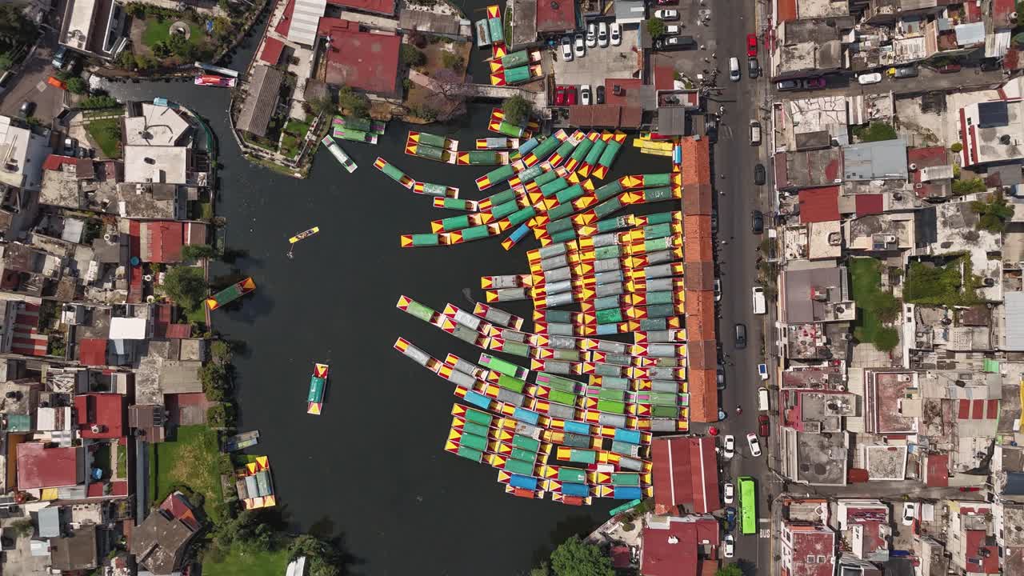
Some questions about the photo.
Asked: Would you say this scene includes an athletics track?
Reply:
No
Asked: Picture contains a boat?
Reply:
Yes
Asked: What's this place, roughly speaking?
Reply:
residential area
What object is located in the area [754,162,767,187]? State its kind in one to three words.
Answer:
vehicle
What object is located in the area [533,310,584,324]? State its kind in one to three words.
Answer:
boat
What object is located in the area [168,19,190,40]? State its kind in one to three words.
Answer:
fountain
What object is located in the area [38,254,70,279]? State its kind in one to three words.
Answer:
house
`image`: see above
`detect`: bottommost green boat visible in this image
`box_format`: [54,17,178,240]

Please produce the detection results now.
[609,501,638,518]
